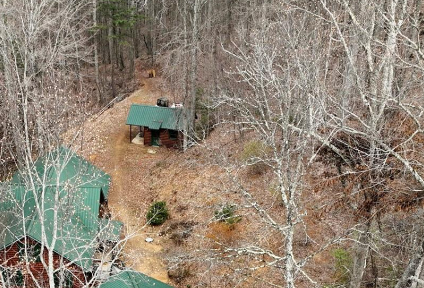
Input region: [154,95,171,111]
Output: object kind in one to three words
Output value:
vehicle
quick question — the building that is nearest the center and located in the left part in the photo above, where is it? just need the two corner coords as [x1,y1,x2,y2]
[132,110,195,148]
